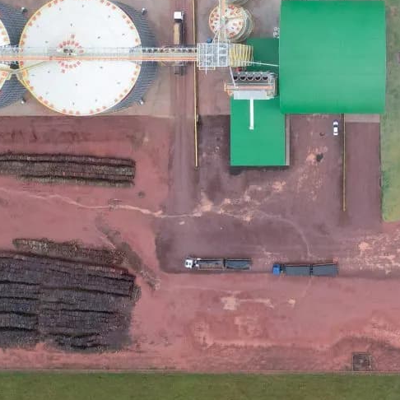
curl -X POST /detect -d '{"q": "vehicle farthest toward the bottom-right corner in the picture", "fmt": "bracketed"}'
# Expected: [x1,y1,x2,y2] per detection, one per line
[272,261,338,276]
